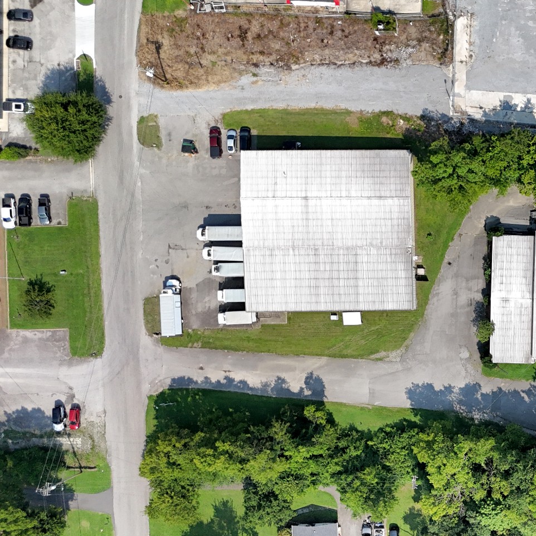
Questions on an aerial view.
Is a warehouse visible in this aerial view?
Yes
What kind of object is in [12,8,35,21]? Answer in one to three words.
vehicle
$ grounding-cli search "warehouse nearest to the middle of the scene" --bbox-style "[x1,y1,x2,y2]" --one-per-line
[240,149,420,312]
